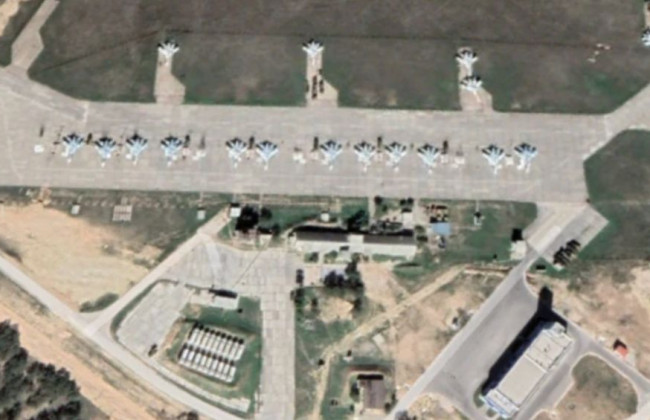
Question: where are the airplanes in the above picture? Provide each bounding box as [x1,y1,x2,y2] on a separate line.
[354,143,375,169]
[637,30,650,55]
[303,38,324,63]
[321,141,341,167]
[256,142,277,168]
[455,49,476,74]
[385,144,406,169]
[482,147,503,173]
[161,138,182,164]
[515,146,536,172]
[128,137,149,163]
[159,38,180,63]
[418,146,439,172]
[95,139,116,164]
[226,140,248,167]
[463,74,484,99]
[62,135,84,161]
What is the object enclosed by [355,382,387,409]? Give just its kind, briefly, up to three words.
building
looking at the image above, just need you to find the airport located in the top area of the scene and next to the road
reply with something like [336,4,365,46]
[0,0,650,271]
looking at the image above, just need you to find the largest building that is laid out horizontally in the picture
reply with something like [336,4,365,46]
[296,232,416,261]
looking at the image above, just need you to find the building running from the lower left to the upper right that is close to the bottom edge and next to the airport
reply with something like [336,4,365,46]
[484,317,570,420]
